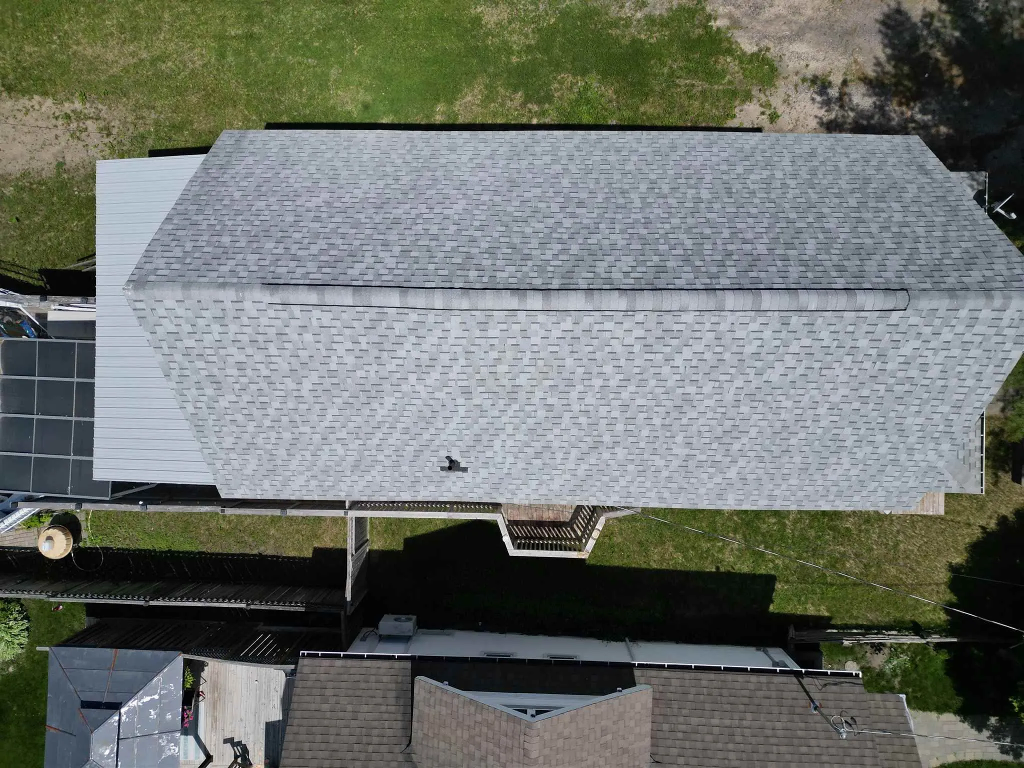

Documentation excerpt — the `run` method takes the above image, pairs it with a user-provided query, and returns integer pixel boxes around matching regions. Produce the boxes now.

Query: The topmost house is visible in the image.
[121,128,1024,514]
